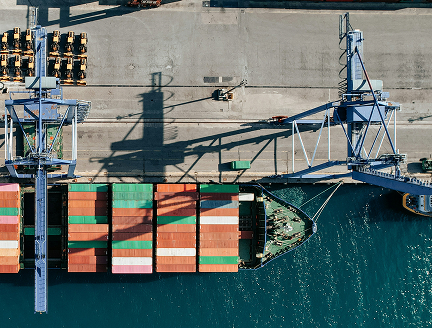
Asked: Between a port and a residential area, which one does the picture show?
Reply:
port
